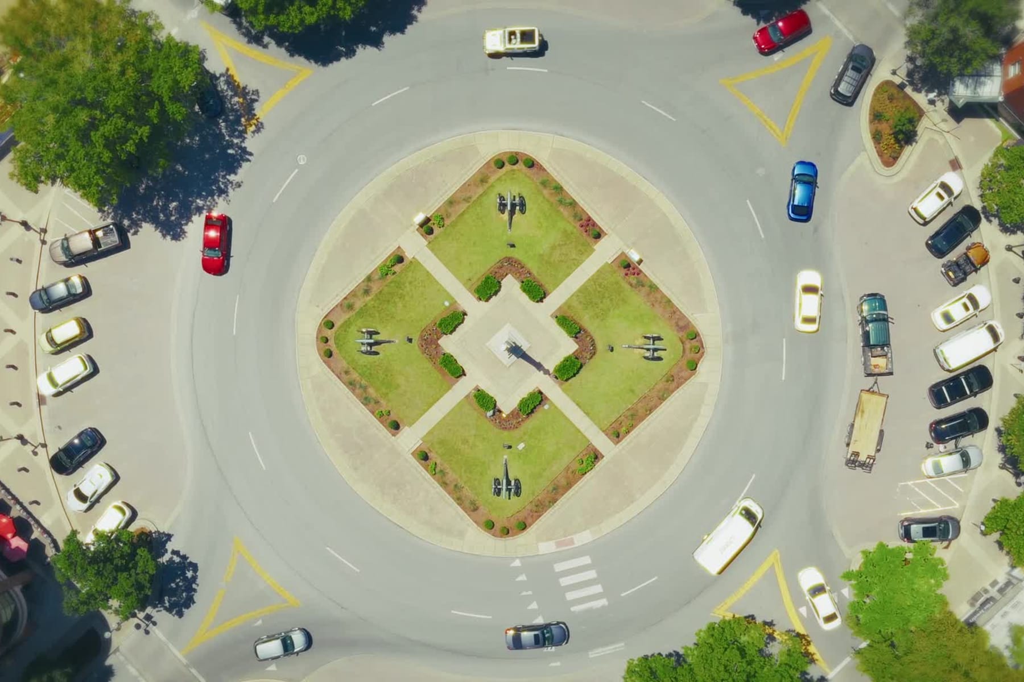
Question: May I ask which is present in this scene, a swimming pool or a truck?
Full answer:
I can see a truck in this picture.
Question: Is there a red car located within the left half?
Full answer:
Yes, I can see a red car within the left half.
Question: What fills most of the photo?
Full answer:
The largest share of the image is taken up by paved ground.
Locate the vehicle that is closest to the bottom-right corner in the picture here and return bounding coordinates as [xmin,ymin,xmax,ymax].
[897,515,959,545]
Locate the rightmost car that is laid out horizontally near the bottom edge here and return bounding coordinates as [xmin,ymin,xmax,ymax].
[506,620,569,651]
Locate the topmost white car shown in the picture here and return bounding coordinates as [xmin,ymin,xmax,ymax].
[484,25,545,58]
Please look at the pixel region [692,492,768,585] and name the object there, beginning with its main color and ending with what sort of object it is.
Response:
white van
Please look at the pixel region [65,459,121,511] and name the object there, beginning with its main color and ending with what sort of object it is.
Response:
white car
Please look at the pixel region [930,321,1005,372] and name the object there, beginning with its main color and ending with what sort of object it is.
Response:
white van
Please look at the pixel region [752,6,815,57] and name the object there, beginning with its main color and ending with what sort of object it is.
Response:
red car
